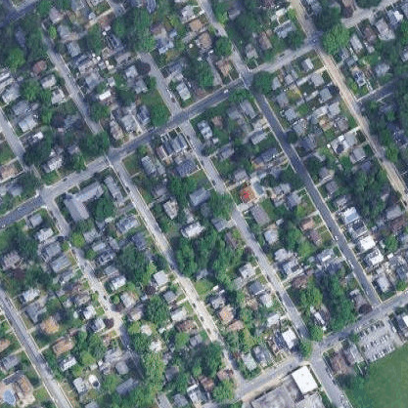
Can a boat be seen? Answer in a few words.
No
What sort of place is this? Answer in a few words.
residential area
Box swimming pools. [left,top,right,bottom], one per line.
[2,390,16,406]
